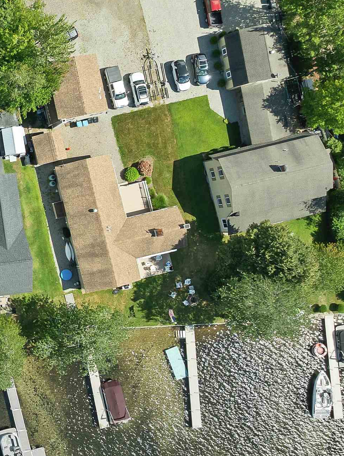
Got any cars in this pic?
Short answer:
Yes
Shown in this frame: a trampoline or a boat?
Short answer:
boat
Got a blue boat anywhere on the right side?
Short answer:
No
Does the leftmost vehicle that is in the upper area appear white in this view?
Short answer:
Yes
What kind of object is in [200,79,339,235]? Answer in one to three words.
house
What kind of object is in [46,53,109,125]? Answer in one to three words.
building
